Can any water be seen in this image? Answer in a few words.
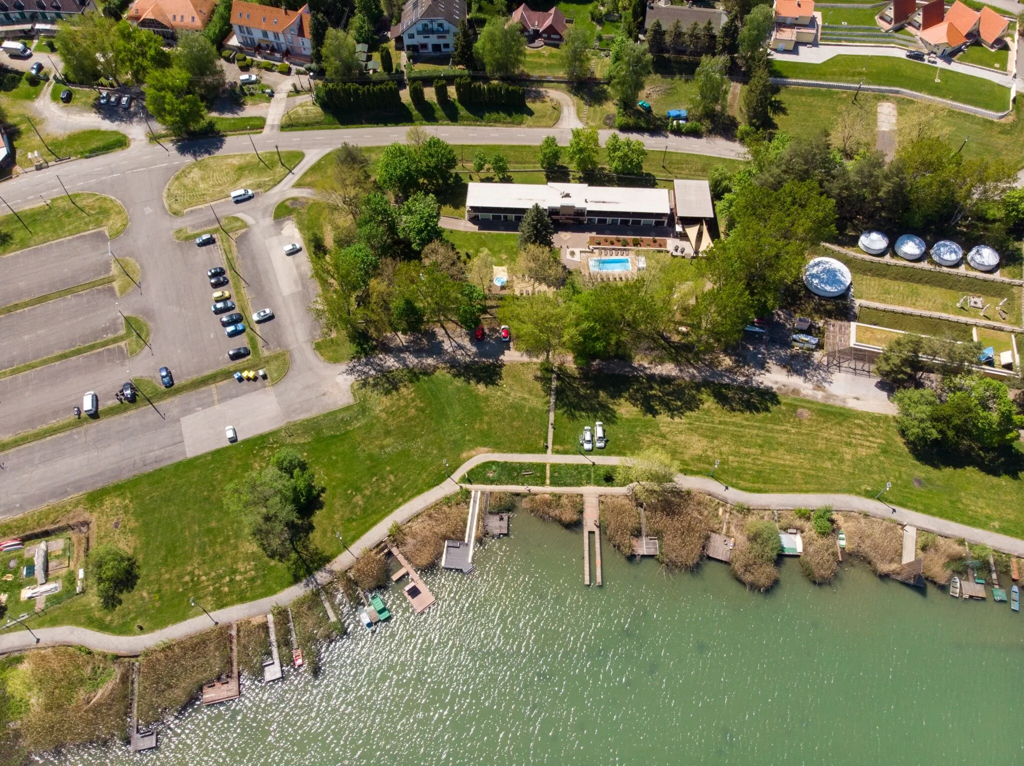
Yes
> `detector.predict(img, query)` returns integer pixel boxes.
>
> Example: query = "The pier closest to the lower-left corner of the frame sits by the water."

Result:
[131,663,157,752]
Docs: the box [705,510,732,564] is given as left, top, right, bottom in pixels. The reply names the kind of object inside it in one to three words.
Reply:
pier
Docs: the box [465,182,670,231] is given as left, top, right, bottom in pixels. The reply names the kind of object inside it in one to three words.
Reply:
building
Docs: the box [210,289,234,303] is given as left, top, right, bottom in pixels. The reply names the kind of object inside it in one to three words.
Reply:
car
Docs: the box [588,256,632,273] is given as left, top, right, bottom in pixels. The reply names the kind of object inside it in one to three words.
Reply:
swimming pool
